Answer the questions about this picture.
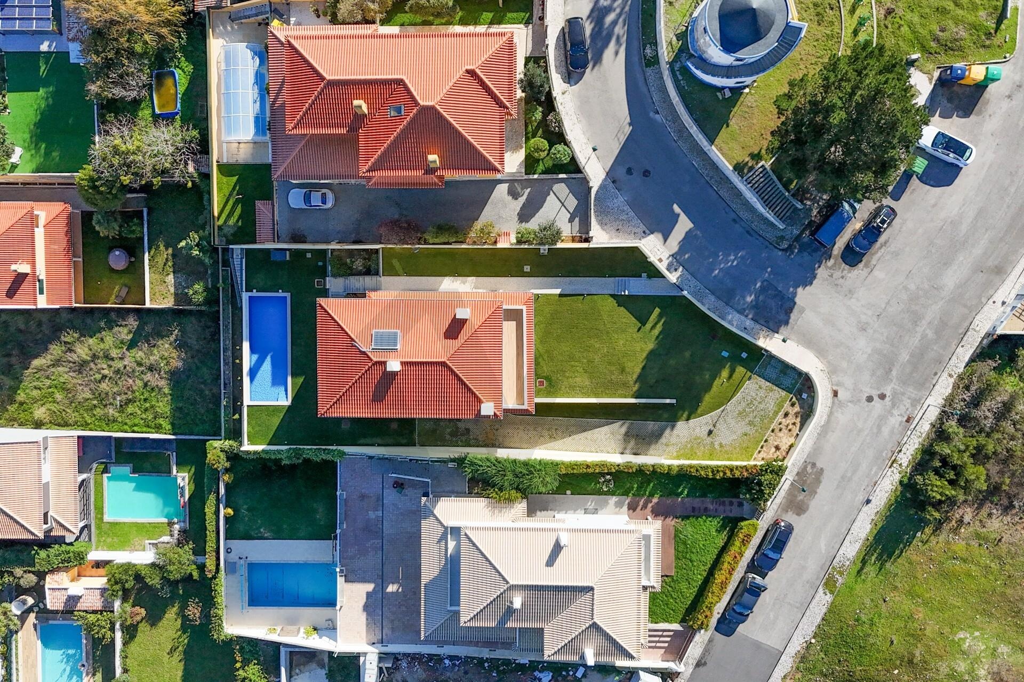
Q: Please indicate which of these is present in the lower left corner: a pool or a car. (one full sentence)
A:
Visible in the lower left corner is a pool.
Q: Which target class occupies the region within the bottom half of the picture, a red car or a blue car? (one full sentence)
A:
Visible within the bottom half of the picture is a blue car.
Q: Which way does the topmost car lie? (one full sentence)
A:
In this picture, the topmost car is oriented up and down.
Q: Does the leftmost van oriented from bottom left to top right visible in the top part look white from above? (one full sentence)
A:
No, the leftmost van oriented from bottom left to top right visible in the top part is actually blue.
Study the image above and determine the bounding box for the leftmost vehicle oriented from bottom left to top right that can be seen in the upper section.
[808,204,855,252]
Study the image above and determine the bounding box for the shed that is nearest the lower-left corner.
[45,558,128,612]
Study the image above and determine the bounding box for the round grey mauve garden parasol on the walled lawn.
[109,249,135,270]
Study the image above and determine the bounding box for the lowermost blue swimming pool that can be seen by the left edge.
[36,619,87,682]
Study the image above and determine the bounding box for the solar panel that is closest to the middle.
[352,330,401,352]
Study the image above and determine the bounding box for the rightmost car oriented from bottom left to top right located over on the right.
[850,203,895,255]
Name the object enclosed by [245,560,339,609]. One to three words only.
swimming pool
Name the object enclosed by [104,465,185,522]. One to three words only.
swimming pool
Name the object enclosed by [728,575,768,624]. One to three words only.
car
